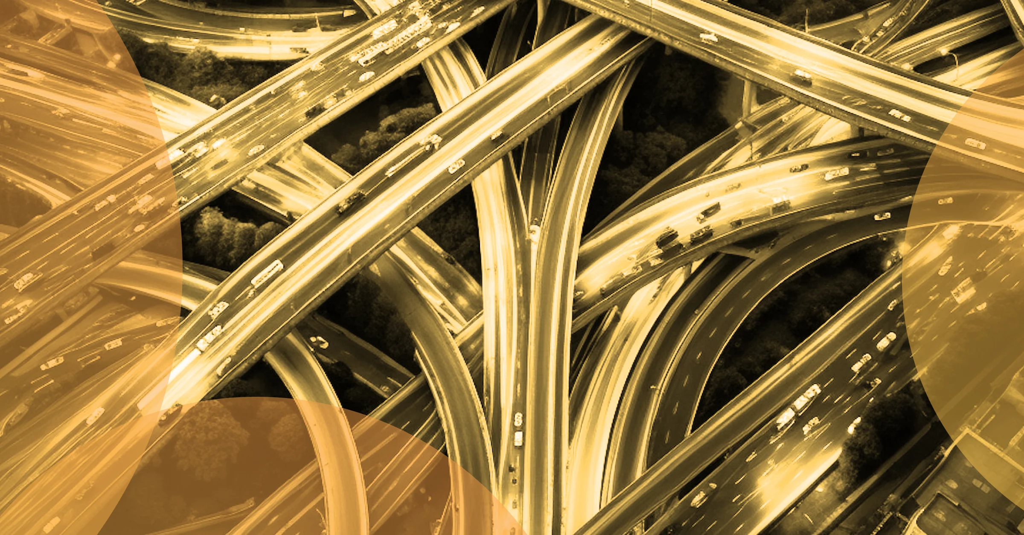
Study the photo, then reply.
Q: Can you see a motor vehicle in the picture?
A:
Yes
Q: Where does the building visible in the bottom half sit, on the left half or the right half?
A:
right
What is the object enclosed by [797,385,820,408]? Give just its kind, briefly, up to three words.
truck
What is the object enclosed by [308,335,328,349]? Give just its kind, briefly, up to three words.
car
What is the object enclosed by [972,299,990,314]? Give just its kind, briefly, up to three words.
car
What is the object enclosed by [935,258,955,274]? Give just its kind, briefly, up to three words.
vehicle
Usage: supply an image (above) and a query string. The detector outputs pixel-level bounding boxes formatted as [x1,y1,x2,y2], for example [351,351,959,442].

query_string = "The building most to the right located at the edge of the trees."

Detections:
[975,364,1024,469]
